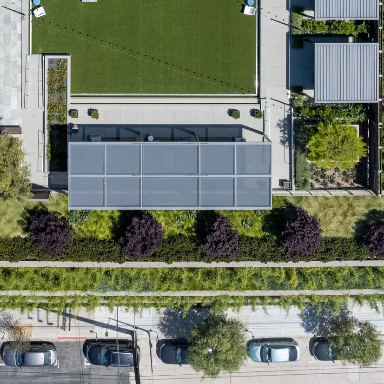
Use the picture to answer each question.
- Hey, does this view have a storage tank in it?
No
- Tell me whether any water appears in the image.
No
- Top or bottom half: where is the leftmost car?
bottom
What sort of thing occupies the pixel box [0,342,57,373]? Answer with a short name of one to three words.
car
